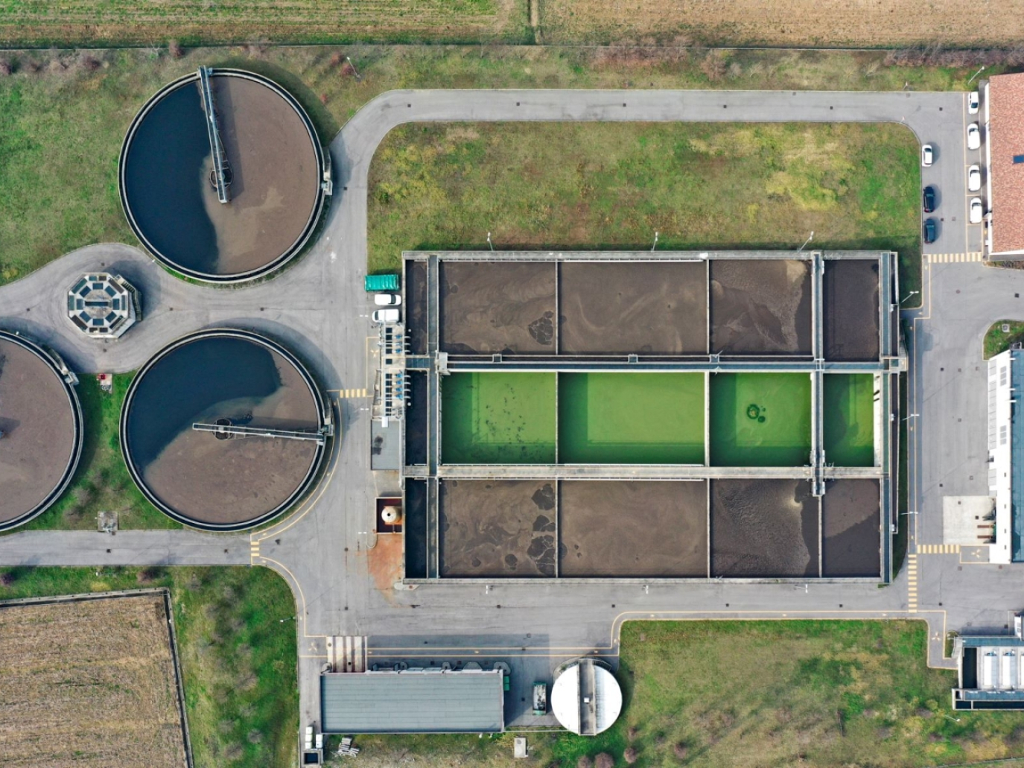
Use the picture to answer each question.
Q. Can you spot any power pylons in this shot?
No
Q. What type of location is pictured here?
industrial area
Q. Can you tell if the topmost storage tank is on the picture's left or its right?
left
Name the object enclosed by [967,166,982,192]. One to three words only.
car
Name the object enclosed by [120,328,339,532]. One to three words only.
storage tank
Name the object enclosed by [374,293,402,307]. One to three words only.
vehicle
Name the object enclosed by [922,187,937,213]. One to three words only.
car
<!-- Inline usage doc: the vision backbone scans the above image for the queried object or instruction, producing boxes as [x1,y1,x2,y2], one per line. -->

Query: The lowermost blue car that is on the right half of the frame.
[923,220,937,245]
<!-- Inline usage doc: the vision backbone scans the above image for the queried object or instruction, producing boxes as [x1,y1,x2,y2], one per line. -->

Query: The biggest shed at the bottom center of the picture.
[316,657,507,738]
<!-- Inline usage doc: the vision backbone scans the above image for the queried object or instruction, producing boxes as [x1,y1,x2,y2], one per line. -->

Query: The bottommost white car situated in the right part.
[968,199,984,224]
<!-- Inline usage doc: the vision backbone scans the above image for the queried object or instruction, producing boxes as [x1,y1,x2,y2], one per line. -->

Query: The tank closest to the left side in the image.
[0,329,88,532]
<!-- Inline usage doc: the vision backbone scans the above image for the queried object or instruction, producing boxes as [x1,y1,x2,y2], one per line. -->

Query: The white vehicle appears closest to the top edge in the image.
[966,91,981,116]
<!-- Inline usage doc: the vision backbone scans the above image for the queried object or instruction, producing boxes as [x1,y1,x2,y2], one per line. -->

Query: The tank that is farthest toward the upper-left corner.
[118,63,339,284]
